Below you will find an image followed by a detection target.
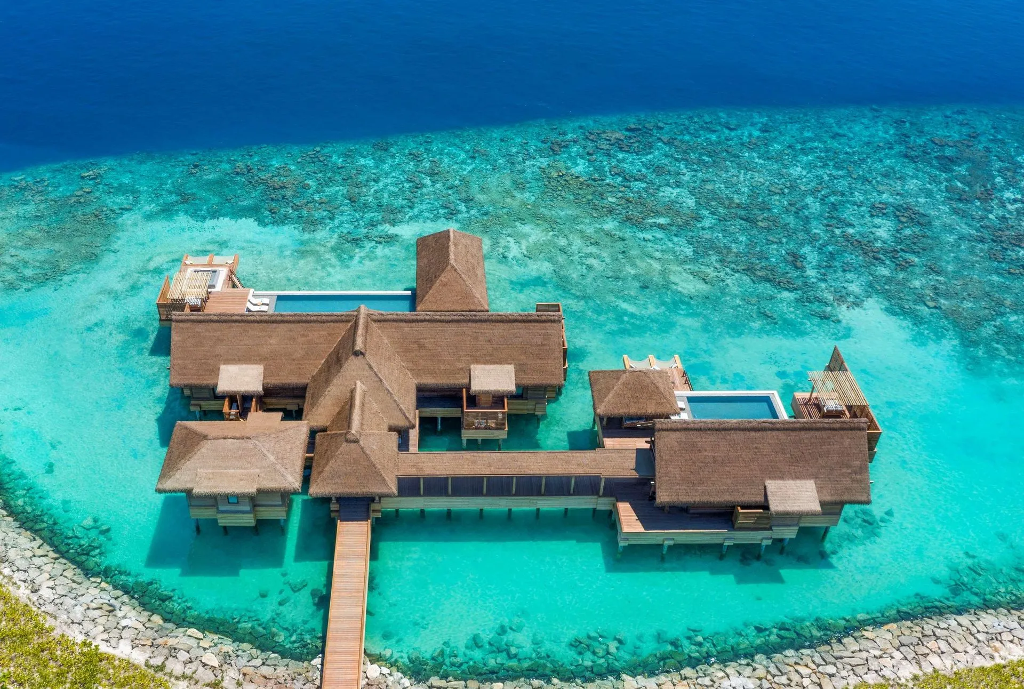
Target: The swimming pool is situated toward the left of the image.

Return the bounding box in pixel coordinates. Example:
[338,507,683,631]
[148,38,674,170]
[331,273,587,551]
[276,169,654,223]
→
[244,291,415,316]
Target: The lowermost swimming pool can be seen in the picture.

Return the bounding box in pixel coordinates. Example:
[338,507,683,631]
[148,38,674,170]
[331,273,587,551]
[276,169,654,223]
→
[667,391,789,421]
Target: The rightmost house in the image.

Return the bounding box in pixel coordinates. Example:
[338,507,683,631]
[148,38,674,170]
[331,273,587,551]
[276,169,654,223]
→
[638,418,876,563]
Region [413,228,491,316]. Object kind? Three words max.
shed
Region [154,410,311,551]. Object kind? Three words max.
building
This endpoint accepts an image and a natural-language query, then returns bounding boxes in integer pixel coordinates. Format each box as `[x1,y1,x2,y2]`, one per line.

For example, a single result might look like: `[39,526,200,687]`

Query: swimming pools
[667,391,789,421]
[244,291,415,316]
